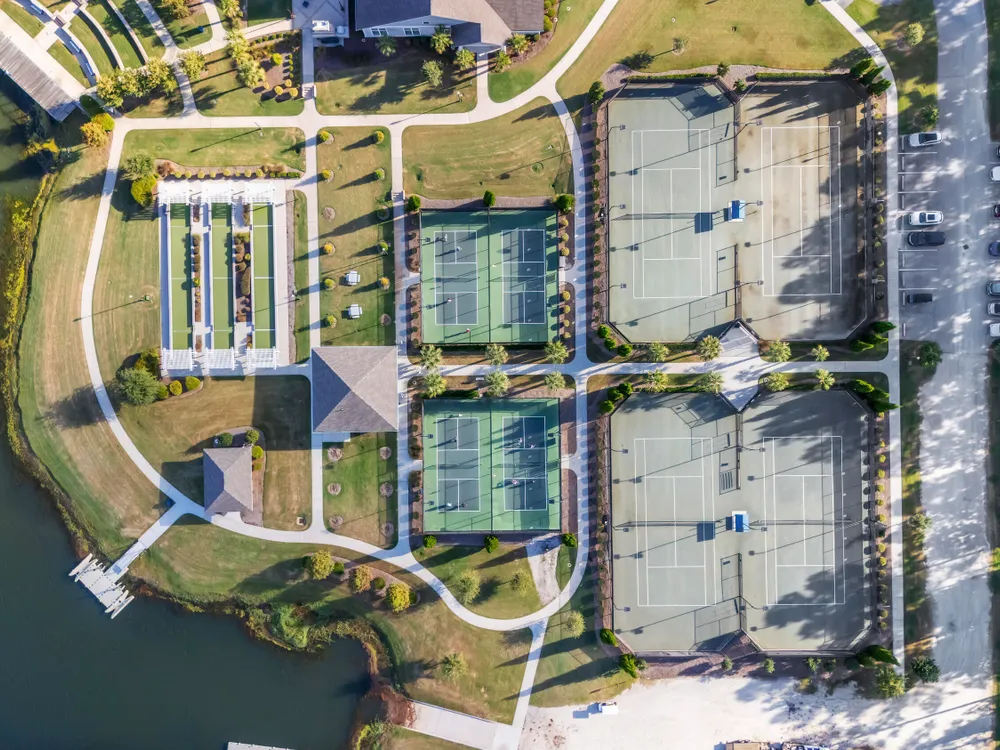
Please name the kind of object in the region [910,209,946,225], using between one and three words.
car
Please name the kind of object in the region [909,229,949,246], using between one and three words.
car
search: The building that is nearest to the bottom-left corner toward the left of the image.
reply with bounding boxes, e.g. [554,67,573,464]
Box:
[202,446,258,513]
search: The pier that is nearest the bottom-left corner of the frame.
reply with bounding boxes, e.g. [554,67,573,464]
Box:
[69,541,146,618]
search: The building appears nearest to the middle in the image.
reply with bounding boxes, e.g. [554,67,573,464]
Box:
[311,345,398,434]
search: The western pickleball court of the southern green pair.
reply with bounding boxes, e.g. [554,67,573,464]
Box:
[423,399,491,532]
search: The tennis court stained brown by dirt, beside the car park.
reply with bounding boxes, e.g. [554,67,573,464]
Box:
[734,84,866,341]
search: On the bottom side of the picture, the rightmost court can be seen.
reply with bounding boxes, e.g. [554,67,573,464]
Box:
[737,392,871,649]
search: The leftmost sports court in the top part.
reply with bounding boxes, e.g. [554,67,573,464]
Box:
[420,210,489,343]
